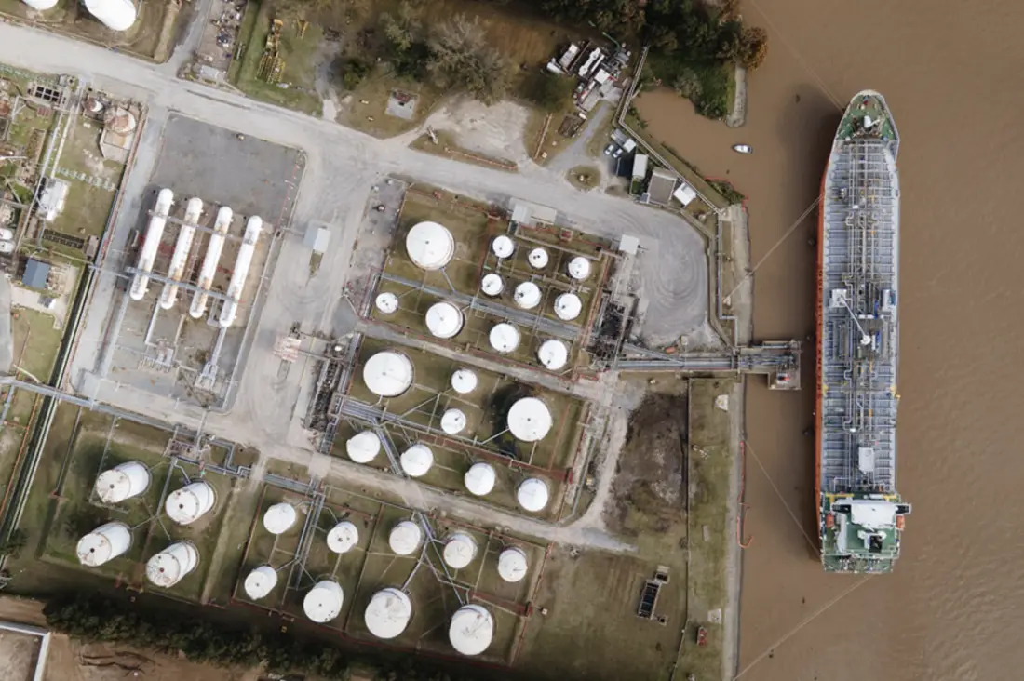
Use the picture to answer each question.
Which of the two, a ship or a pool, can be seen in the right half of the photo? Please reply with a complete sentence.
Looking in the right half of the photo, you will find a ship.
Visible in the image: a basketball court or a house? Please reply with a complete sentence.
Visible in the photo is a house.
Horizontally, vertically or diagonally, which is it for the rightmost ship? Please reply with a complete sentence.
The rightmost ship has been laid out vertically relative to the frame.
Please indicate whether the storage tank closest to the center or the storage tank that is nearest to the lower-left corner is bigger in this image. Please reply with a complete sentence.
The larger object is the storage tank that is nearest to the lower-left corner, with the storage tank closest to the center being the smaller of the pair.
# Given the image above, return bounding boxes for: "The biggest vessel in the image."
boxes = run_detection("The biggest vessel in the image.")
[814,90,910,572]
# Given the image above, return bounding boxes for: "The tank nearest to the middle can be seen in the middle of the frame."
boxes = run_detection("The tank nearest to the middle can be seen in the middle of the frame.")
[489,321,522,356]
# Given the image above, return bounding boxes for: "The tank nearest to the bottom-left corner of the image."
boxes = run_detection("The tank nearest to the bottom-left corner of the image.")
[77,523,136,569]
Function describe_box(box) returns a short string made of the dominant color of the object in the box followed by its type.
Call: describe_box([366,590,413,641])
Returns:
white storage tank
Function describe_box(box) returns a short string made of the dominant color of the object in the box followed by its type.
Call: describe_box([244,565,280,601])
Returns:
white storage tank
